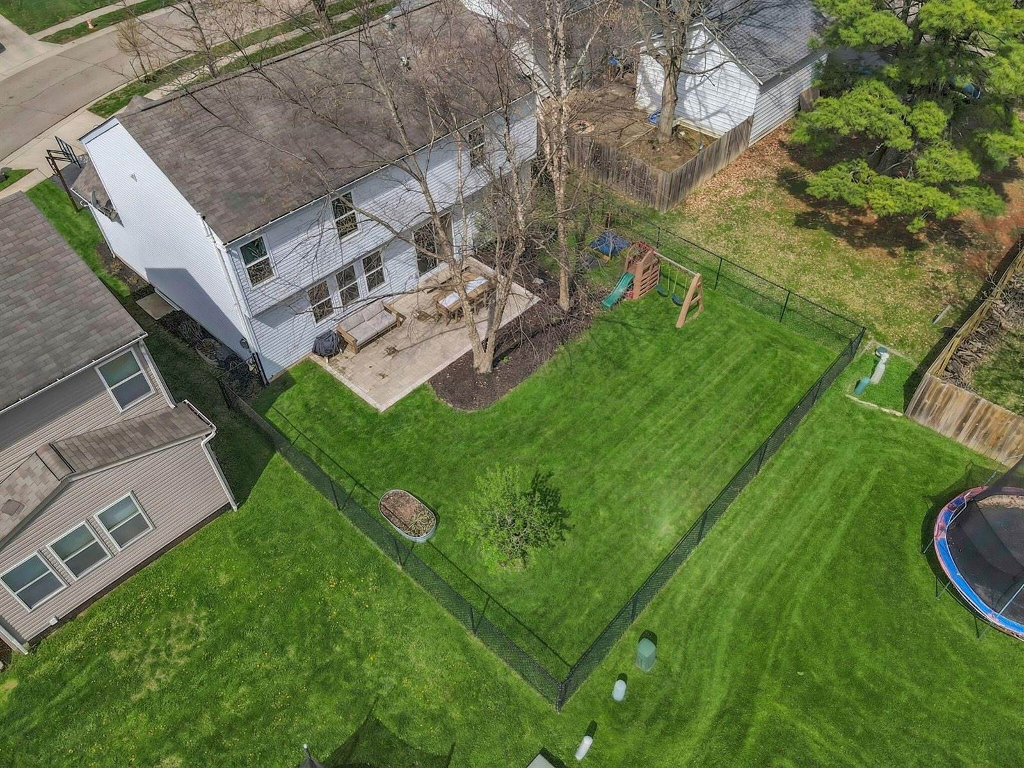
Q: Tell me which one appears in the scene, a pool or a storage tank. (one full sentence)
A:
It is a storage tank that can be seen here.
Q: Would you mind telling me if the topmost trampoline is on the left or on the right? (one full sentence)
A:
You can find the topmost trampoline on the right side of the picture.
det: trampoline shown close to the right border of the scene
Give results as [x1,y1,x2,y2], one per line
[923,451,1024,646]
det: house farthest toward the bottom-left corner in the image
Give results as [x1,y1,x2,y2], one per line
[0,197,243,665]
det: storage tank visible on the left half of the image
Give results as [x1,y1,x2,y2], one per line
[377,489,439,551]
